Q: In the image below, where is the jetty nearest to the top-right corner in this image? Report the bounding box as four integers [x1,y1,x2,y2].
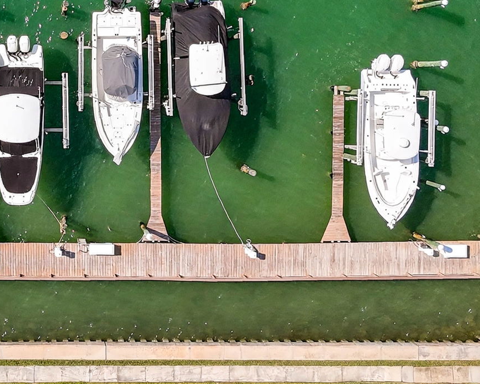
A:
[320,94,350,244]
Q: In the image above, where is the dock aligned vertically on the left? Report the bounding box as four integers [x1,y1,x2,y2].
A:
[140,17,169,244]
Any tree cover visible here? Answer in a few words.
No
